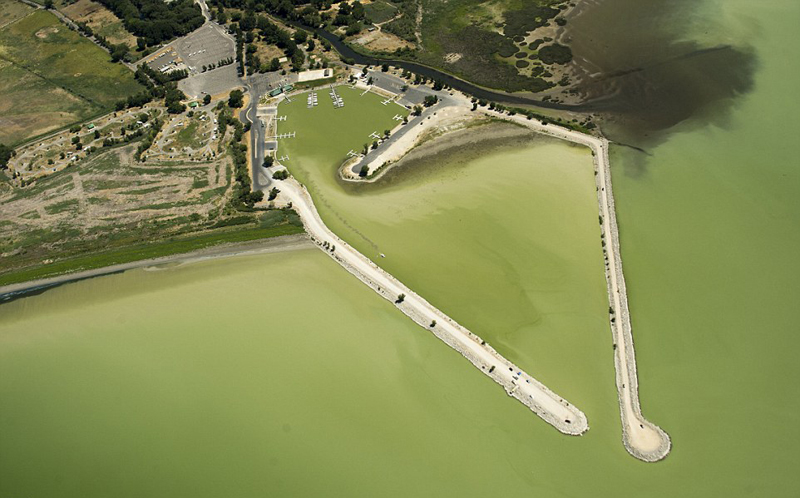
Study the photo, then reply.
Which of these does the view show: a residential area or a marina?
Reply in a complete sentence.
It's a marina.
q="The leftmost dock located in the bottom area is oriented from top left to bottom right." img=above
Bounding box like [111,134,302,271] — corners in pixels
[270,177,589,436]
